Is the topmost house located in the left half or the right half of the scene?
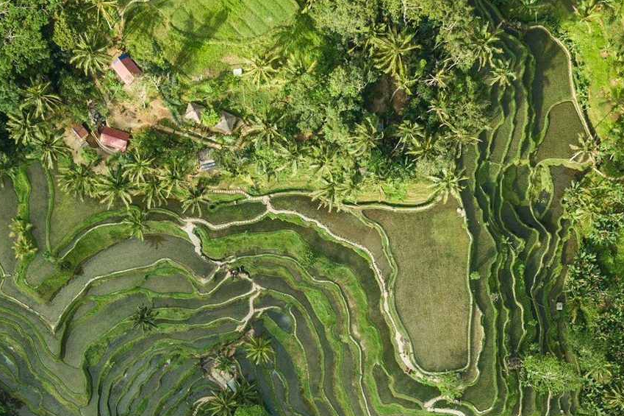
left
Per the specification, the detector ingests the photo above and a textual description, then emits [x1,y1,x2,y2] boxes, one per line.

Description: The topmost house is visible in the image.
[110,52,144,88]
